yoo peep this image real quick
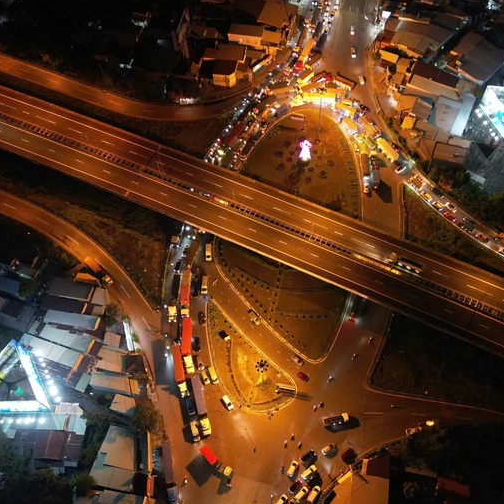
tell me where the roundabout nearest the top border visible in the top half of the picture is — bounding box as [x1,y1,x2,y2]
[238,107,365,221]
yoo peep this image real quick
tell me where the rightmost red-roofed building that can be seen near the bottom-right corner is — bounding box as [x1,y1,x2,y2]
[433,474,472,500]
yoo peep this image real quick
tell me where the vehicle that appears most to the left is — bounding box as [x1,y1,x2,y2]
[86,259,113,287]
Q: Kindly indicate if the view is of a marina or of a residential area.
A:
residential area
